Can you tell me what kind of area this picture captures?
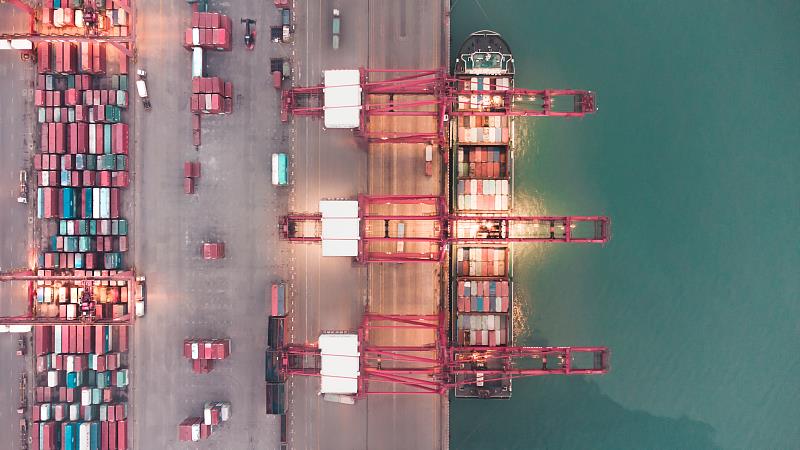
port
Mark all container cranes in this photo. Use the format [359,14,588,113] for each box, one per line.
[280,194,613,264]
[0,268,135,330]
[0,0,135,59]
[280,69,600,160]
[280,303,613,398]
